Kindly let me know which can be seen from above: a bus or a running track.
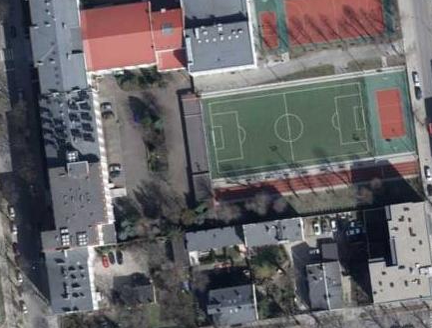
running track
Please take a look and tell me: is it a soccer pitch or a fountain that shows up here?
soccer pitch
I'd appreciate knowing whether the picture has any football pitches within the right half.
Yes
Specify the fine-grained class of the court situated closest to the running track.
basketball court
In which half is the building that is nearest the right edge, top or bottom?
bottom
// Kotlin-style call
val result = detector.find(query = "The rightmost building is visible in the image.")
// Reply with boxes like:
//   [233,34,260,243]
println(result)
[368,201,432,303]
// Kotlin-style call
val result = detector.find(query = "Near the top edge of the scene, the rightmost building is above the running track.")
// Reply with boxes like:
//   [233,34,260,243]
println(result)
[181,0,255,74]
